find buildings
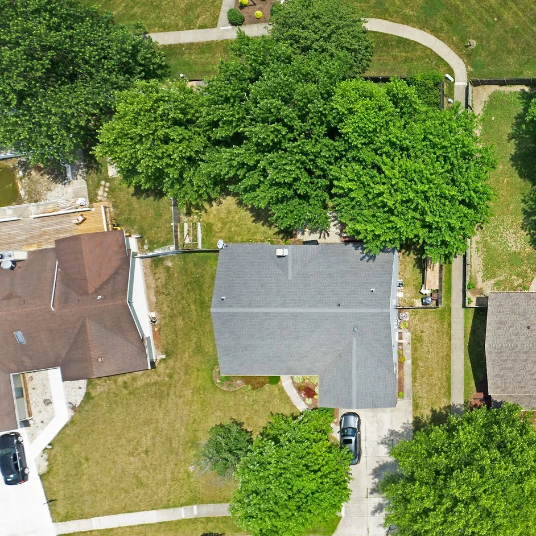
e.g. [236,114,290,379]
[208,242,399,409]
[485,290,536,411]
[0,230,154,432]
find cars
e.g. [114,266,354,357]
[337,411,363,467]
[0,431,23,488]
